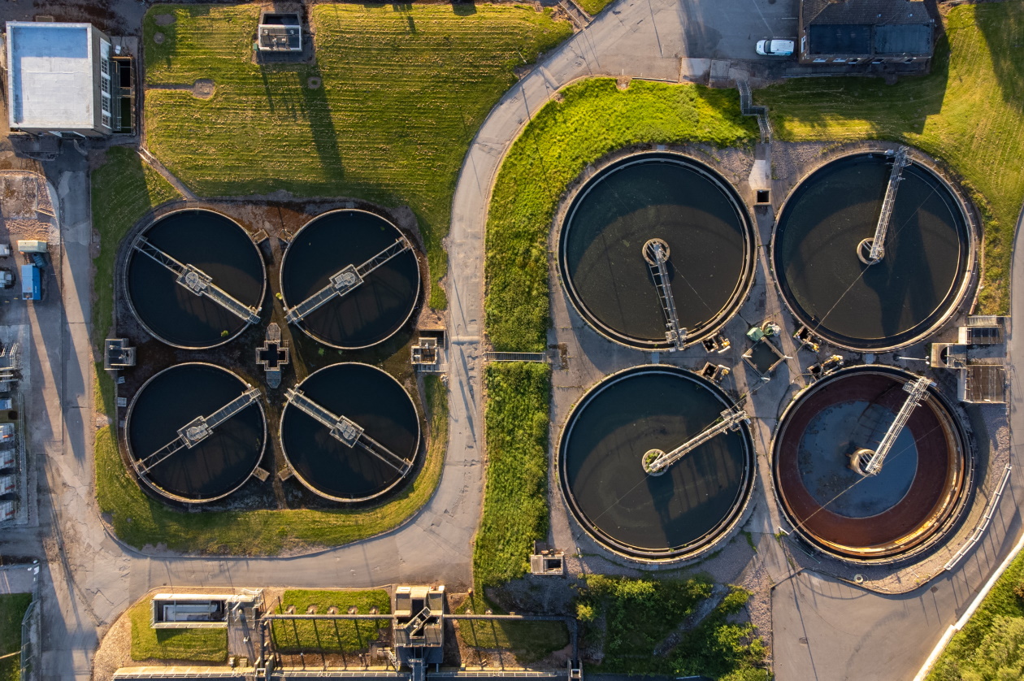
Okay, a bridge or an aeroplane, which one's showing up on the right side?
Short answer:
bridge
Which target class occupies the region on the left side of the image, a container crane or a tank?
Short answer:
tank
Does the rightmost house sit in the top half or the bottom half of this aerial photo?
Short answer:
top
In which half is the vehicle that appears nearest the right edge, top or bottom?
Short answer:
top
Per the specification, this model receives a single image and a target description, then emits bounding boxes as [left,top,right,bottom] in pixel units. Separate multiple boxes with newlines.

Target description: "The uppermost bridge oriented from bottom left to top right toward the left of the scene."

[281,233,411,328]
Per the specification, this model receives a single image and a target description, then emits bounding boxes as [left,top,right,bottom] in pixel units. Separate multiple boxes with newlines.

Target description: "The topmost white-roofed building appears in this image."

[7,22,113,145]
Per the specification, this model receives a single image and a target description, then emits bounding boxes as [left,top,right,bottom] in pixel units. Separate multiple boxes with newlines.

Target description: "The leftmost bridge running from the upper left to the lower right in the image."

[128,236,265,324]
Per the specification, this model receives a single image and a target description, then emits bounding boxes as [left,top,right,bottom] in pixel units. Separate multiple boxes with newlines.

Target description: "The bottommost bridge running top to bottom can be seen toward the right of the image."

[648,239,686,351]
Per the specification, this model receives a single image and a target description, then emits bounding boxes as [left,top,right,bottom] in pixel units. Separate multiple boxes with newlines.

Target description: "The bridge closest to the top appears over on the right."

[867,144,918,262]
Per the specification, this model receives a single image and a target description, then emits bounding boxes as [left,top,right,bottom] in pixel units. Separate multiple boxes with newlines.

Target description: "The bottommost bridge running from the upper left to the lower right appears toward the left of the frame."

[281,386,412,477]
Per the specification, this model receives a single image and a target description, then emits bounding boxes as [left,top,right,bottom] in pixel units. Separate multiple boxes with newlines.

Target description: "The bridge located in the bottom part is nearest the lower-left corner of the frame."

[128,387,266,475]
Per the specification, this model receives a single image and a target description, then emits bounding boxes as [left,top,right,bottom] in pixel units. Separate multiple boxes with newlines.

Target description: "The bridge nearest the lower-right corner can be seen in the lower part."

[862,375,939,480]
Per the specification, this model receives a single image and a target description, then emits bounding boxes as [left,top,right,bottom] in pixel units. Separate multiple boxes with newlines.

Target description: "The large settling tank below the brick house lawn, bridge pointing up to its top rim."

[772,144,977,352]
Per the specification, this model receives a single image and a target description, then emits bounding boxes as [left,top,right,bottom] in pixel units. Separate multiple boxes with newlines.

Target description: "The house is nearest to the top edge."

[800,0,933,64]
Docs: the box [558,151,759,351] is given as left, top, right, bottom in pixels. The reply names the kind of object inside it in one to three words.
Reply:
storage tank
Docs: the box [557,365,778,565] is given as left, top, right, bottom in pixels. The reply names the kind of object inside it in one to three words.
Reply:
storage tank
